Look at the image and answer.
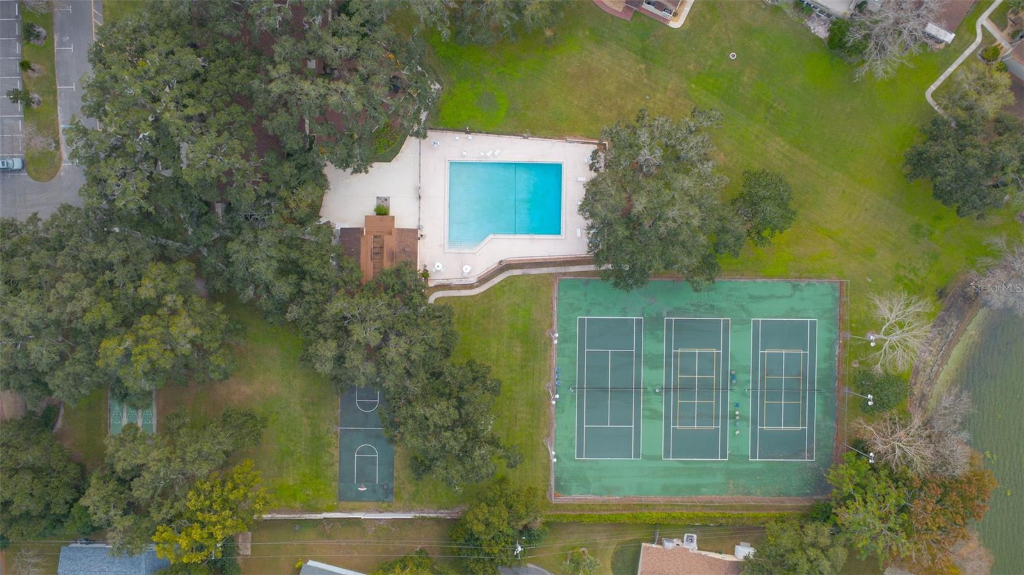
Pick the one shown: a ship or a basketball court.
basketball court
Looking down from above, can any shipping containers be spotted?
No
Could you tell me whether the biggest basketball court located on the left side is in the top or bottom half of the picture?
bottom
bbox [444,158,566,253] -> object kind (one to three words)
swimming pool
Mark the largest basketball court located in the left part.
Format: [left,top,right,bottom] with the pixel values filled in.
[337,381,396,502]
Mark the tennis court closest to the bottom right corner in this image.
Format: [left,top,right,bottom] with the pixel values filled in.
[749,318,818,461]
